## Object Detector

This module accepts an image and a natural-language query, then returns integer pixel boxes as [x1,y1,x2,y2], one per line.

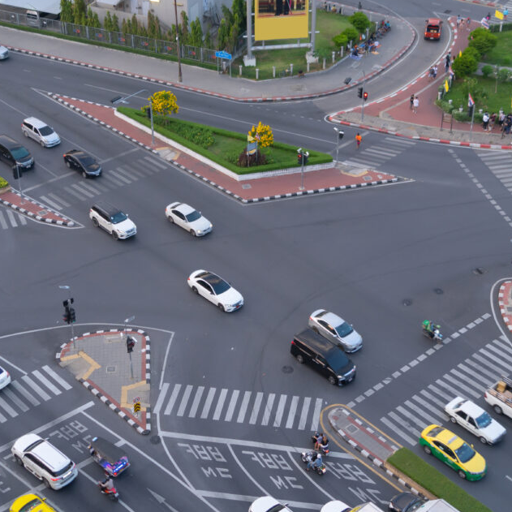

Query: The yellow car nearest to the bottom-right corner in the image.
[420,423,487,477]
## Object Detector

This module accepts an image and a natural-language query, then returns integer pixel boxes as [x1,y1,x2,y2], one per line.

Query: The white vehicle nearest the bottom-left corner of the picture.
[13,436,77,490]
